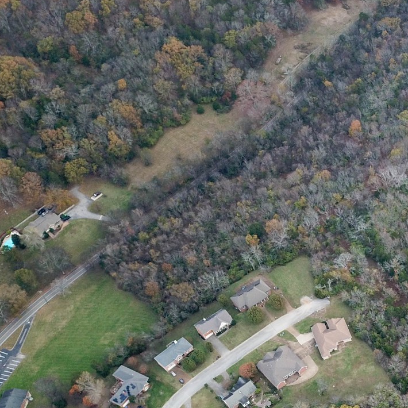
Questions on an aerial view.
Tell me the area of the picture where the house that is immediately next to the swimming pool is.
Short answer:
left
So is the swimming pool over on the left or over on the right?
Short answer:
left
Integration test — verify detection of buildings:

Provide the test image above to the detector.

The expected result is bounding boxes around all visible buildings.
[257,346,309,388]
[194,309,231,340]
[24,213,60,240]
[154,337,195,372]
[222,376,272,408]
[231,279,270,311]
[110,365,149,408]
[0,387,32,408]
[311,318,352,355]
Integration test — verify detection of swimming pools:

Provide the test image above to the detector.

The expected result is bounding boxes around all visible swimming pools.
[0,231,21,253]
